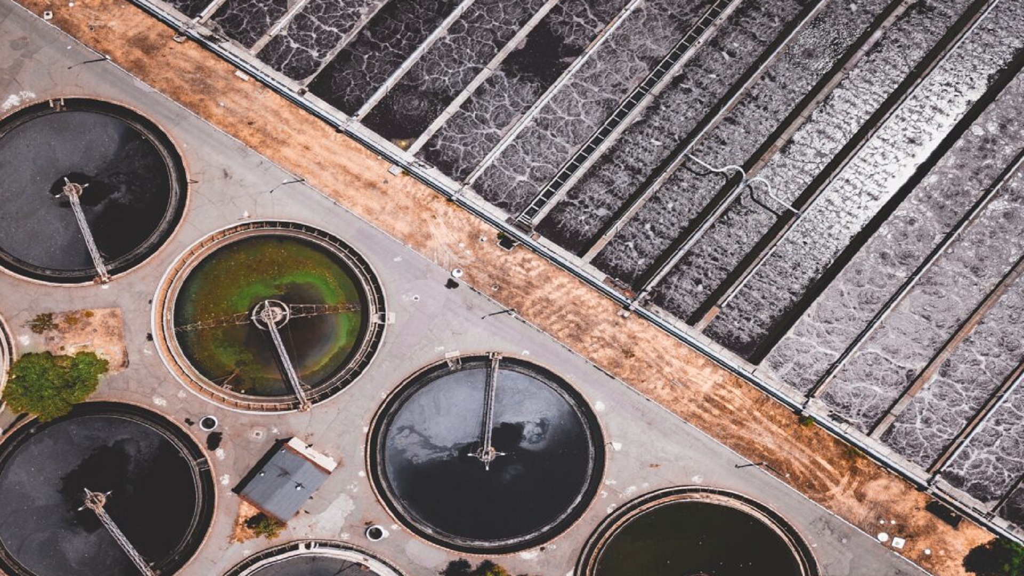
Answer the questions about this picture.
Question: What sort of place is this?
industrial area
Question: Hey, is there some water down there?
Yes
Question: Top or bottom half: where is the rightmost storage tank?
bottom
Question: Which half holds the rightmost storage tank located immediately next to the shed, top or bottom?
bottom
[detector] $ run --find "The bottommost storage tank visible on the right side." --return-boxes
[576,485,819,576]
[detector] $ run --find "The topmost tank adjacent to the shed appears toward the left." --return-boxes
[151,218,386,415]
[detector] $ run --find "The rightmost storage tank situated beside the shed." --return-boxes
[368,354,606,555]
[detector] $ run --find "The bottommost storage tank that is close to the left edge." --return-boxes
[0,401,215,576]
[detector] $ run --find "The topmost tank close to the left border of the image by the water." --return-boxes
[0,93,189,288]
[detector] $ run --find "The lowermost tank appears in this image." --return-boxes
[224,540,405,576]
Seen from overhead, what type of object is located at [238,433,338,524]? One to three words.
shed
